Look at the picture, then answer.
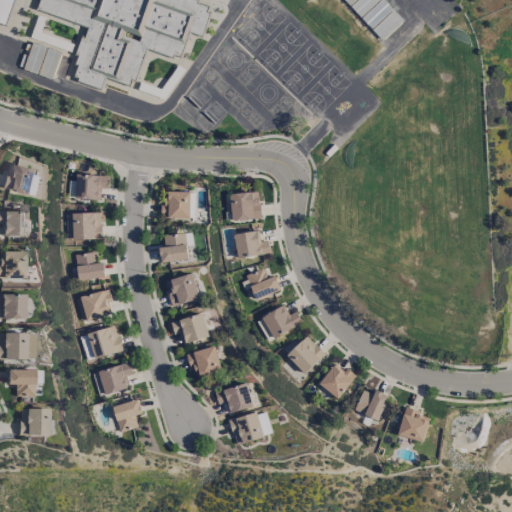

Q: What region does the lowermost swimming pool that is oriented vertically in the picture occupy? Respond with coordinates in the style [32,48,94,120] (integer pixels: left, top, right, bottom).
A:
[99,400,112,426]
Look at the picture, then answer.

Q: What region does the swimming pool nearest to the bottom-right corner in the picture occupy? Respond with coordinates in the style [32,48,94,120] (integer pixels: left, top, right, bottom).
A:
[396,449,418,462]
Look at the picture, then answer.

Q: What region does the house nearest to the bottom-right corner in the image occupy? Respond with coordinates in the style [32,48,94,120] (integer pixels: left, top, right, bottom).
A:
[399,403,430,440]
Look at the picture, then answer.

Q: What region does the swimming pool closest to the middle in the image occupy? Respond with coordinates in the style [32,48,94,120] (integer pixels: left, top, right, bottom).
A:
[224,228,237,258]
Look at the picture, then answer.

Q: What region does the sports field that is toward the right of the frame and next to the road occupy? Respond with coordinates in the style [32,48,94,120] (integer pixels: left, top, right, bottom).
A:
[316,15,500,363]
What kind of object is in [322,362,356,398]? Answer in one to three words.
house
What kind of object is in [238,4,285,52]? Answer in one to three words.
basketball court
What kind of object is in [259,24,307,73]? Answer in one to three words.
basketball court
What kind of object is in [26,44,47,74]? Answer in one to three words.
building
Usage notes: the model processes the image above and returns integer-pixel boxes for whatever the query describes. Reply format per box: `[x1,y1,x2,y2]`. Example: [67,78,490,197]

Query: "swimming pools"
[198,191,206,208]
[396,449,418,462]
[224,228,237,258]
[99,400,112,426]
